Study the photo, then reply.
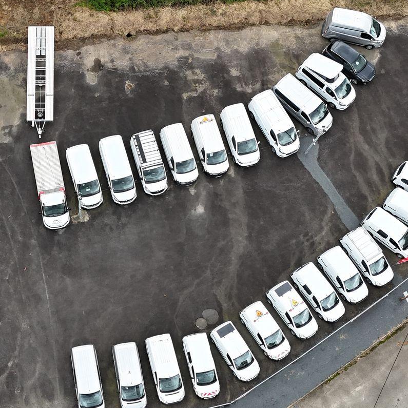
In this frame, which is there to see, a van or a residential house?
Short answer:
van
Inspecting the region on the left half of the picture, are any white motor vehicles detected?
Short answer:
Yes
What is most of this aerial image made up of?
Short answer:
paved ground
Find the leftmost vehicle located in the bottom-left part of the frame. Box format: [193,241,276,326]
[70,347,108,408]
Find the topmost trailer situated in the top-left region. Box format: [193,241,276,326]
[26,26,54,138]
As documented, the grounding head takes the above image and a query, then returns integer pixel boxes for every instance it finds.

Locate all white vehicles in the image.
[263,281,319,343]
[313,247,369,307]
[290,52,354,113]
[217,105,261,168]
[188,115,231,179]
[380,189,408,229]
[29,141,72,230]
[180,334,222,399]
[207,320,261,383]
[236,301,291,363]
[338,228,394,288]
[143,334,186,406]
[288,265,344,325]
[65,144,104,212]
[246,94,299,159]
[98,138,138,205]
[391,163,408,194]
[157,124,199,187]
[128,129,169,197]
[70,347,108,408]
[359,209,408,263]
[110,341,150,408]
